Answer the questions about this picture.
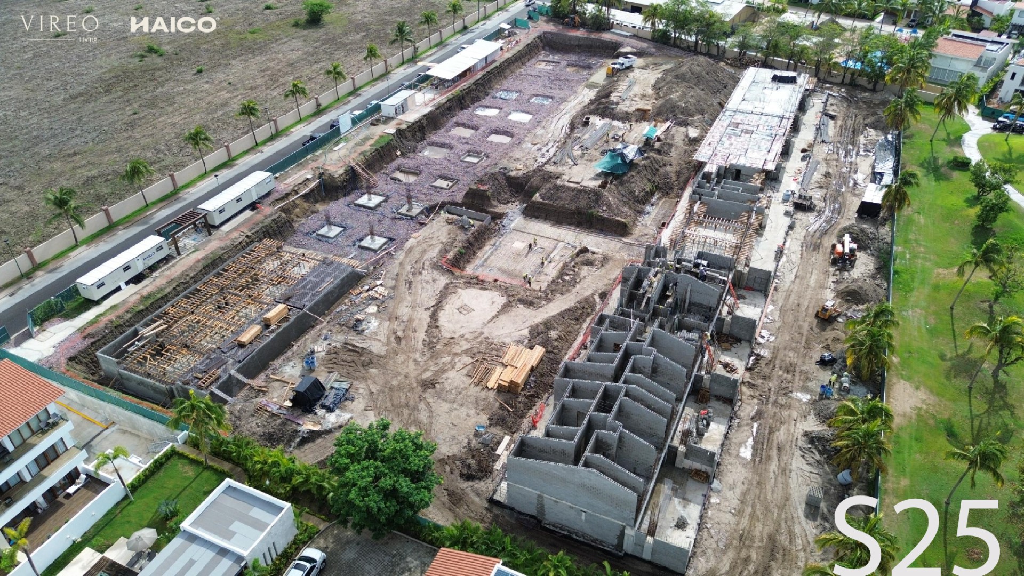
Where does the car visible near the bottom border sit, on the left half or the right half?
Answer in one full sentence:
The car visible near the bottom border is on the left side of the image.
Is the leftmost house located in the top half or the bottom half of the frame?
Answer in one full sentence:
The bottom half of the photo is where the leftmost house is.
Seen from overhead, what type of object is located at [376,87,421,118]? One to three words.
building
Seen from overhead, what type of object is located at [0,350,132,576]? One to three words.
house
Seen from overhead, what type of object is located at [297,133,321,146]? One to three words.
vehicle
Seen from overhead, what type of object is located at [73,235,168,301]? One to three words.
trailer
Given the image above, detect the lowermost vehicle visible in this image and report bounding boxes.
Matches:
[275,550,330,576]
